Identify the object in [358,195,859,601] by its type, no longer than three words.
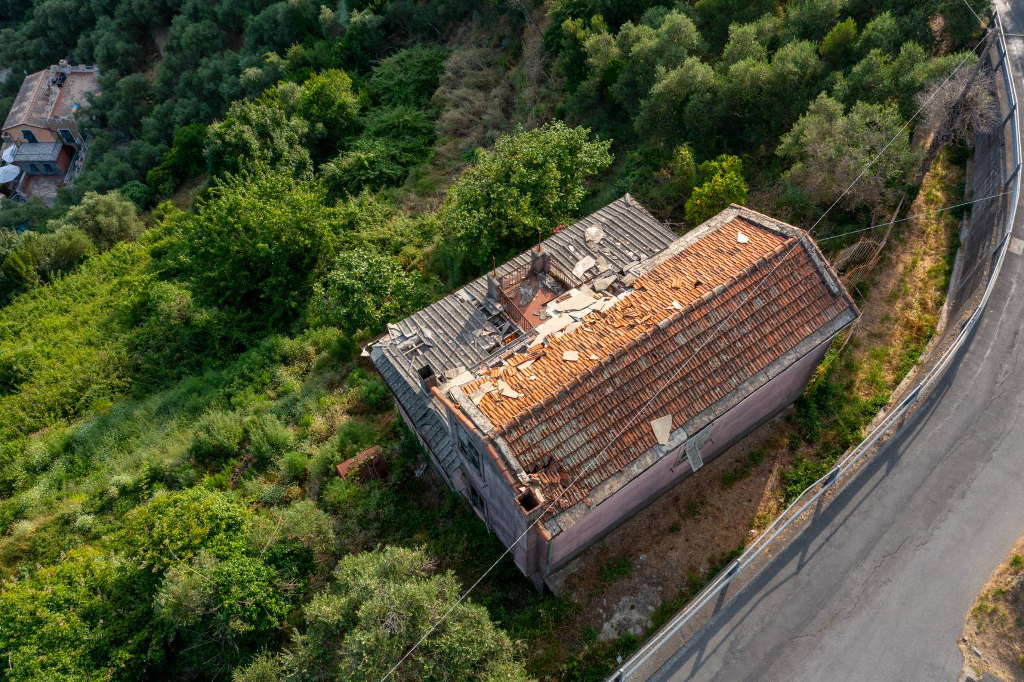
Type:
house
